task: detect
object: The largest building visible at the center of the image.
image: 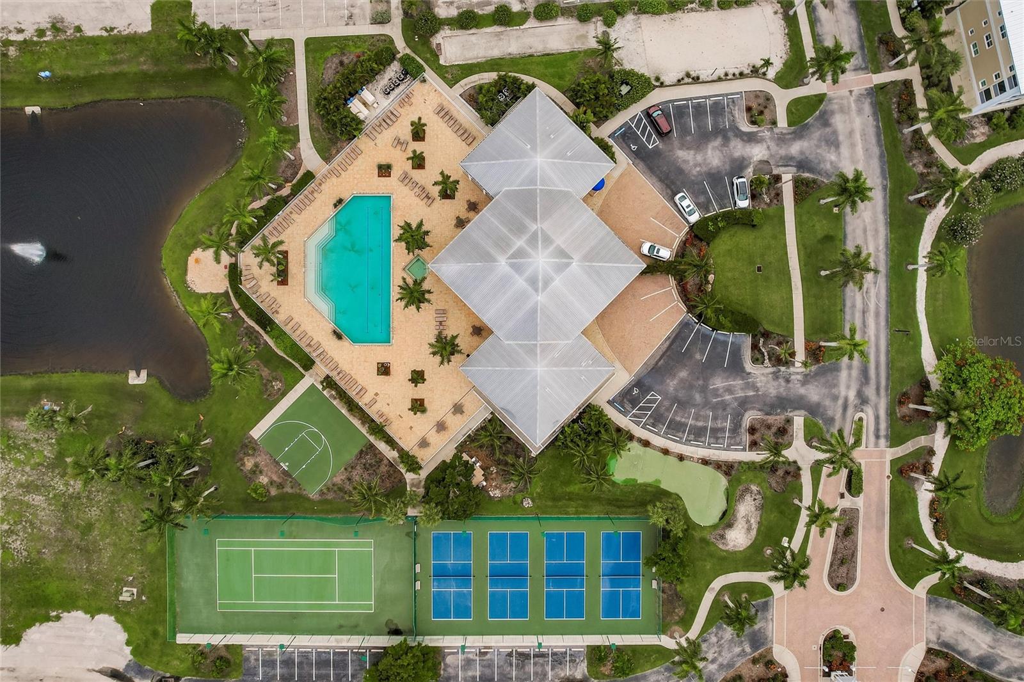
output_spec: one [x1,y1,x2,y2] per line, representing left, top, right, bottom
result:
[428,87,646,456]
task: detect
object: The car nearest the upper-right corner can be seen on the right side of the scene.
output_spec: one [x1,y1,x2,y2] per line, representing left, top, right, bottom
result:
[732,176,750,209]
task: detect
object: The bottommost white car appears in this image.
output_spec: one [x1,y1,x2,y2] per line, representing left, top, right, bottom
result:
[639,241,672,260]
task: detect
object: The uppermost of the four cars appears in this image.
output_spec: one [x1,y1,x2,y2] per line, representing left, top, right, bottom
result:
[647,105,671,137]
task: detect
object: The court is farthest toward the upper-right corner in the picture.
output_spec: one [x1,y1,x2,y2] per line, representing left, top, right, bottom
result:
[611,0,789,86]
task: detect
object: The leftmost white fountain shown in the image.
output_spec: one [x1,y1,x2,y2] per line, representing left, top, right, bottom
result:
[12,242,49,259]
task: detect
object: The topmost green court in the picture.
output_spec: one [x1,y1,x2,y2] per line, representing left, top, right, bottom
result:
[258,385,370,495]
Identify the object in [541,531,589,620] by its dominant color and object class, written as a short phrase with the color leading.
blue sports court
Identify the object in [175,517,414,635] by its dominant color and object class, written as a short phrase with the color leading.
green tennis court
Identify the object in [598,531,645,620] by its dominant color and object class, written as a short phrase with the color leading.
blue sports court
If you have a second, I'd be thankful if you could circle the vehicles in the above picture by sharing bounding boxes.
[732,176,750,209]
[647,105,671,137]
[639,241,672,260]
[675,191,700,223]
